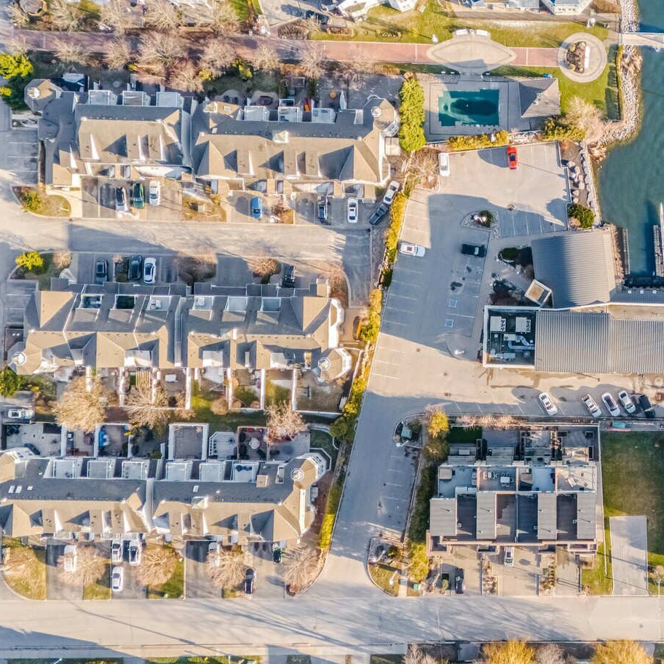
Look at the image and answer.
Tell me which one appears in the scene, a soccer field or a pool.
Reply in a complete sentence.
The one in the frame is a pool.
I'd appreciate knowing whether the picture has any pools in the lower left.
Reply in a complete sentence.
No, I can find no pool in the lower left.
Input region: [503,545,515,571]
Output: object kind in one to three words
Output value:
vehicle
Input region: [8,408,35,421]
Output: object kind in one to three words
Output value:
vehicle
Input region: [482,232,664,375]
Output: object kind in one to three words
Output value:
building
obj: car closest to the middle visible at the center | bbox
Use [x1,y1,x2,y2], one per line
[282,264,296,287]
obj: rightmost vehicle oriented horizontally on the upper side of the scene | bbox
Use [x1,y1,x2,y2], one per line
[459,244,489,257]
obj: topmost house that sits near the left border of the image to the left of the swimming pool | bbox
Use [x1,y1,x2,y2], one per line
[25,81,199,190]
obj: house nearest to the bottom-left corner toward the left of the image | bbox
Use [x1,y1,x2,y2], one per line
[0,447,167,545]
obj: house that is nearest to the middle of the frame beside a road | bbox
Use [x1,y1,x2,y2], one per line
[181,282,356,382]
